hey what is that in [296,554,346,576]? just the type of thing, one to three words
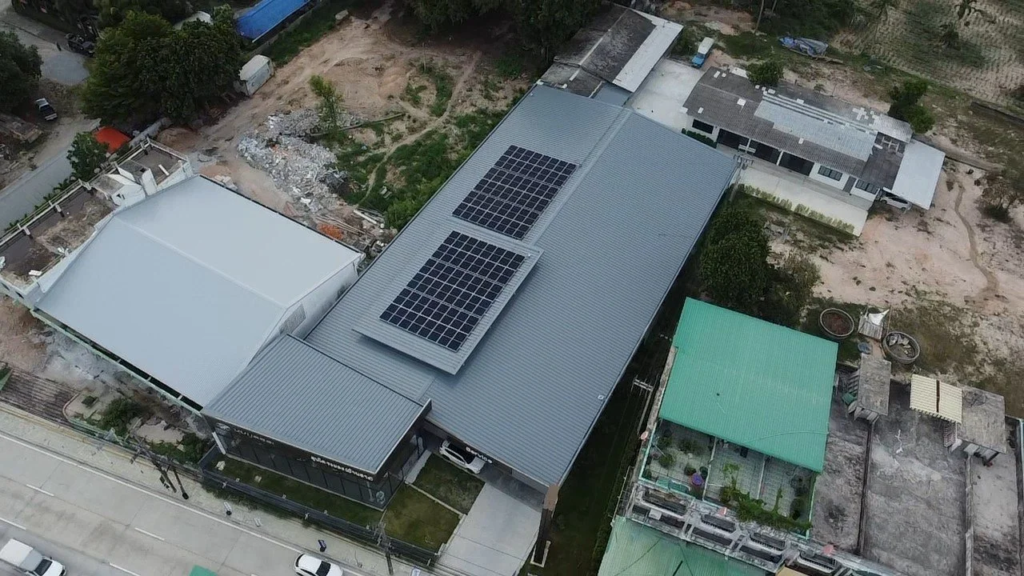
car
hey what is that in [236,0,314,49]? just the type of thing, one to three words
shed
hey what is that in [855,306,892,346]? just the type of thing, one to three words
shed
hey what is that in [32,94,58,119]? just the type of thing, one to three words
truck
